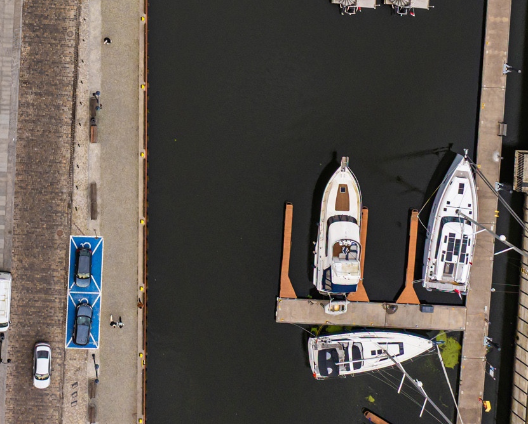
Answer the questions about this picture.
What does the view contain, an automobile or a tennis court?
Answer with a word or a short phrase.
automobile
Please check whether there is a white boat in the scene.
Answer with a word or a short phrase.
Yes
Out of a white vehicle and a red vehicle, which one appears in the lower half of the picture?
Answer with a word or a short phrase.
white vehicle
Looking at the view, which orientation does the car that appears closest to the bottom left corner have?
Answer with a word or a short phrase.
up and down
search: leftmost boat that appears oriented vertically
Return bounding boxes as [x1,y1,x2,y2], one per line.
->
[312,157,362,306]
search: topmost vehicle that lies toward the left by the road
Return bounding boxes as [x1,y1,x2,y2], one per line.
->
[72,248,95,293]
